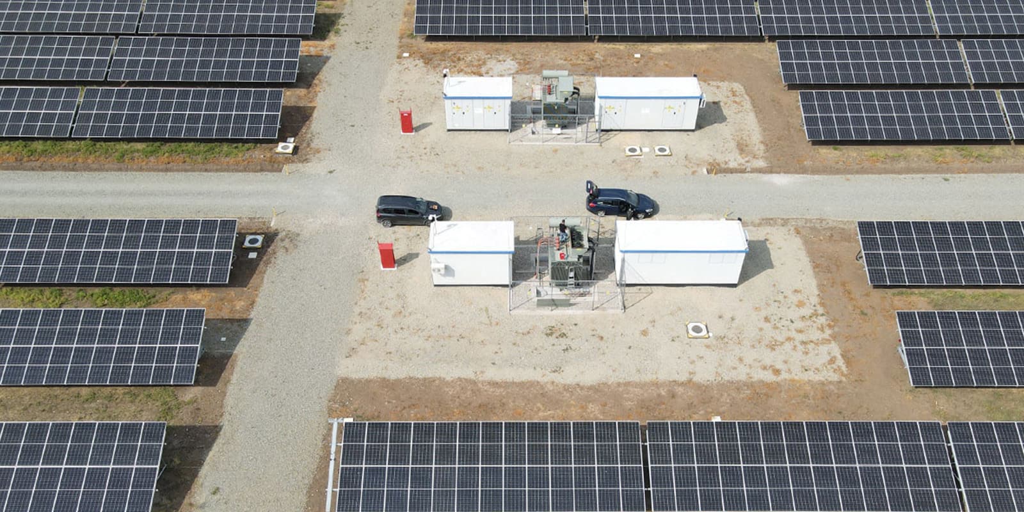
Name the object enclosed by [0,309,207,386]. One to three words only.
solar array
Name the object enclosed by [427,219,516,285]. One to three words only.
building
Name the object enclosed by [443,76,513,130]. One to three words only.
building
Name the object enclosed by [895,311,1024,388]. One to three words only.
solar array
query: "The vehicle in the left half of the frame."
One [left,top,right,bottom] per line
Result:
[375,192,444,227]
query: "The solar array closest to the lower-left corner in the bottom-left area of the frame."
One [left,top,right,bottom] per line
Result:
[0,422,168,512]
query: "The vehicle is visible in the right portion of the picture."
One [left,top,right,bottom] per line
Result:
[583,181,655,219]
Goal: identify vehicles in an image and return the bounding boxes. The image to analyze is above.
[375,192,444,227]
[583,181,655,219]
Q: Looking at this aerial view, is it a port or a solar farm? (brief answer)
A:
solar farm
